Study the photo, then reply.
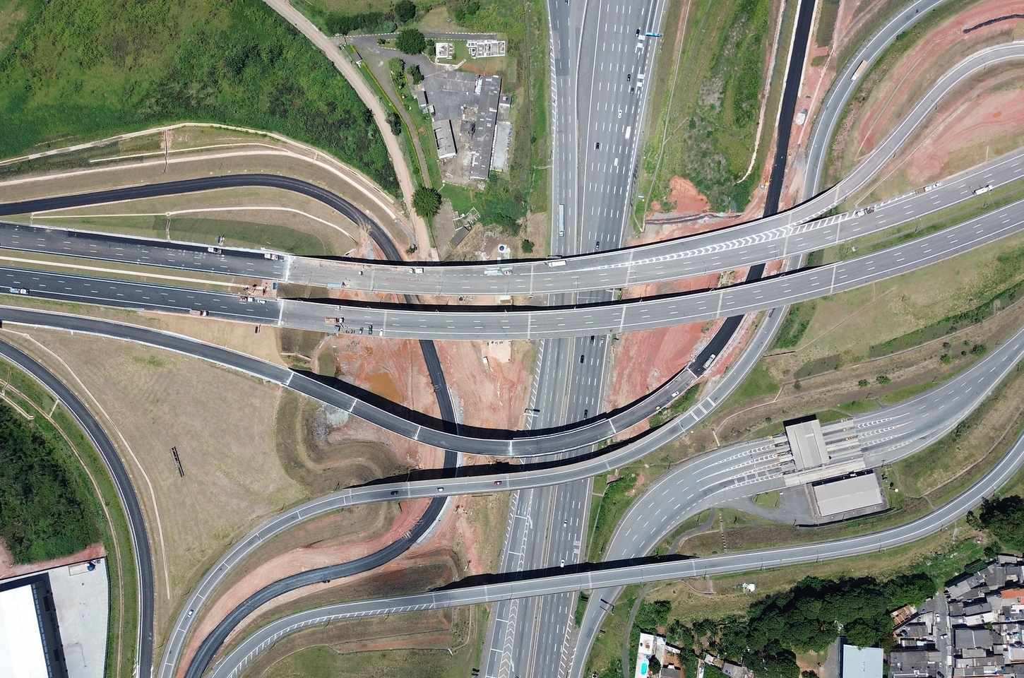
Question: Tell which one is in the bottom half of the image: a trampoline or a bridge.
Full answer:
Looking in the bottom half of the image, you will find a bridge.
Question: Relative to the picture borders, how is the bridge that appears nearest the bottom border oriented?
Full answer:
In this picture, the bridge that appears nearest the bottom border is oriented horizontally.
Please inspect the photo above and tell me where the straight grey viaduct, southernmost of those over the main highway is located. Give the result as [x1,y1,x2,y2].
[430,558,696,610]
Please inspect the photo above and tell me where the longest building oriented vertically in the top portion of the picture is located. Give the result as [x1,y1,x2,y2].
[470,75,501,179]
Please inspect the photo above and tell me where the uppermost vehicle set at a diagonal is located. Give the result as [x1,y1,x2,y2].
[851,58,870,79]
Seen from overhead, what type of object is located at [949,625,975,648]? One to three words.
house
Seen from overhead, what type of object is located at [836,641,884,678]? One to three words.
building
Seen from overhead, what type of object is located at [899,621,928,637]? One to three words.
house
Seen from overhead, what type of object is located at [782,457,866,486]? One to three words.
building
